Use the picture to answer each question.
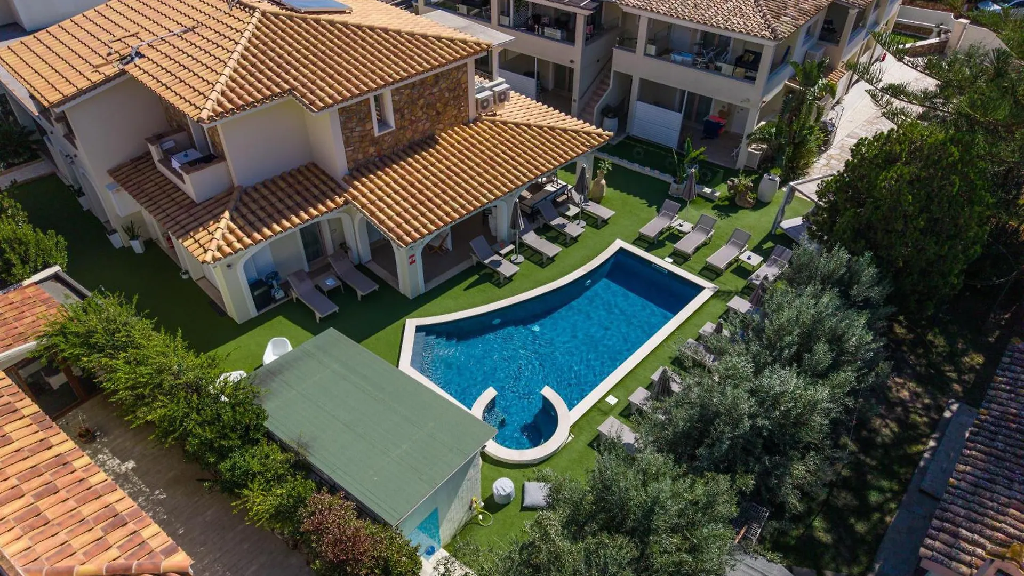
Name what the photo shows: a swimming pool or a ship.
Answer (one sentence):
Of the two, only a swimming pool appears.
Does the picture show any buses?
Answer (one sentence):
No, no bus can be seen from above.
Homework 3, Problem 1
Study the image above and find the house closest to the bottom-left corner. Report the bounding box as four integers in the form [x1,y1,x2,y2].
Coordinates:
[0,370,193,576]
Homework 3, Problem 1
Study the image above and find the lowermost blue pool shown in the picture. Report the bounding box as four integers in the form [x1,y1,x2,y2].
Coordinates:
[399,239,718,461]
